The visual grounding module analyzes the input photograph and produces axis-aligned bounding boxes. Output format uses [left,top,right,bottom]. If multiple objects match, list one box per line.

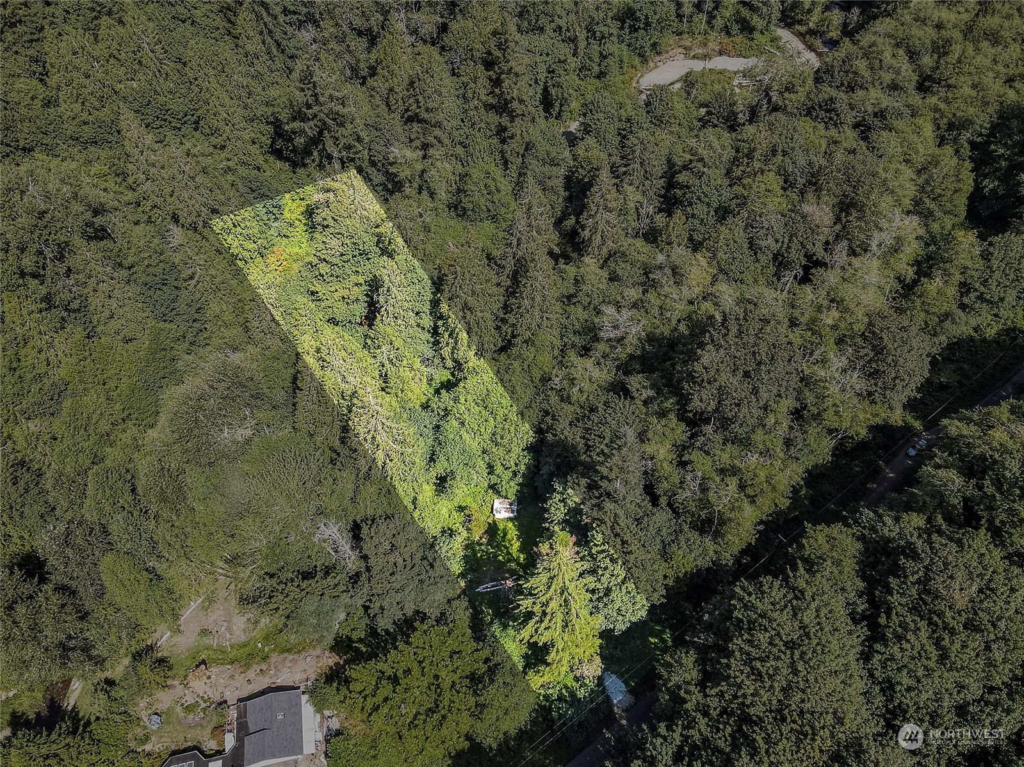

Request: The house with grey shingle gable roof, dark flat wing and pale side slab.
[161,691,333,767]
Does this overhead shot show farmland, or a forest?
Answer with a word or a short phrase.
forest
